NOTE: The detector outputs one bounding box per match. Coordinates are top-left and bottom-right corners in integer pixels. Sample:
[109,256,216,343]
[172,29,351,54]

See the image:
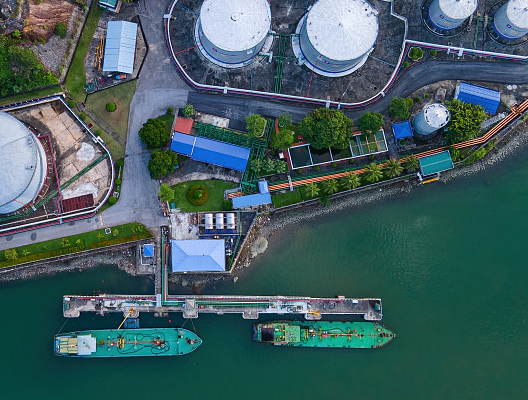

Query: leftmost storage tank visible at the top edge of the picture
[195,0,272,66]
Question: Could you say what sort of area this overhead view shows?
industrial area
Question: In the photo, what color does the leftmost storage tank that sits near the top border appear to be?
white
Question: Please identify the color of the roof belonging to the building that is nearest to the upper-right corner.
blue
